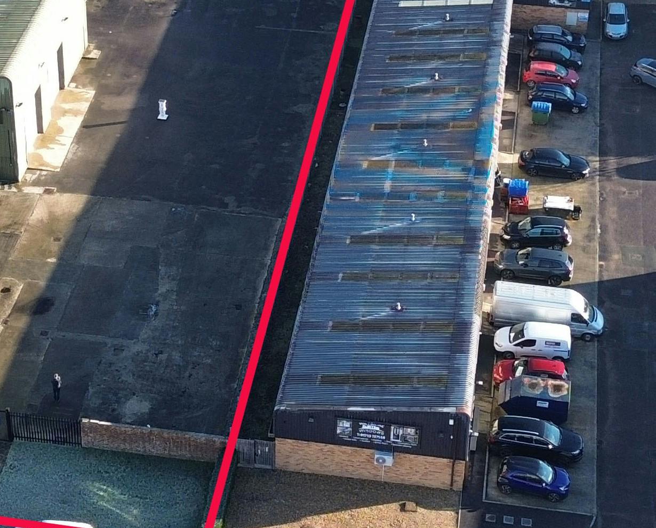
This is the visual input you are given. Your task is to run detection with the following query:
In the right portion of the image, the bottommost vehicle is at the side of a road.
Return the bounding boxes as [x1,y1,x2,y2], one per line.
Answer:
[490,452,577,504]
